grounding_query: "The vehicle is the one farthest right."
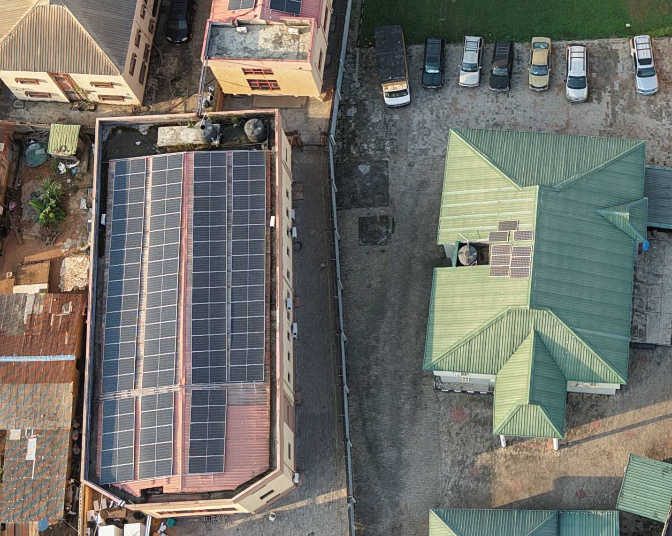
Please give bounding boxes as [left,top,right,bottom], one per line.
[631,36,659,95]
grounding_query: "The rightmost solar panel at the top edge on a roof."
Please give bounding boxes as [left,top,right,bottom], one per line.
[270,0,303,14]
